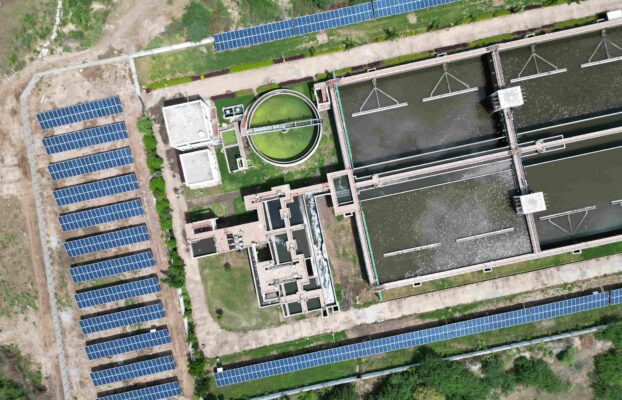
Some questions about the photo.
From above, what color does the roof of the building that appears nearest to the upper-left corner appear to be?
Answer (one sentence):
From above, the roof of the building that appears nearest to the upper-left corner looks white.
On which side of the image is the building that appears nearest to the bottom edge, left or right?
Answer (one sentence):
It is on the left.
